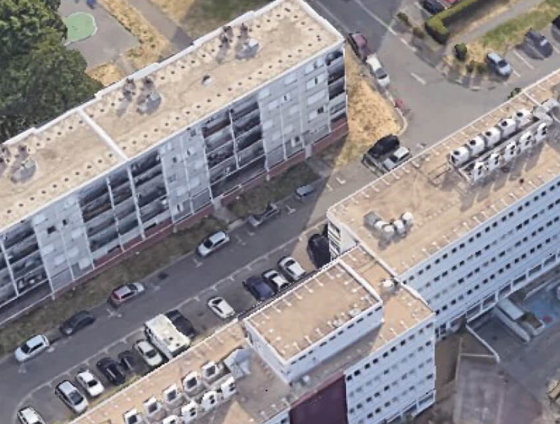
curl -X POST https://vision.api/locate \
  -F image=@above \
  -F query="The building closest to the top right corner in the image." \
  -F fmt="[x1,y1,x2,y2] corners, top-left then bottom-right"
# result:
[328,68,560,346]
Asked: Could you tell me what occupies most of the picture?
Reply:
buildings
